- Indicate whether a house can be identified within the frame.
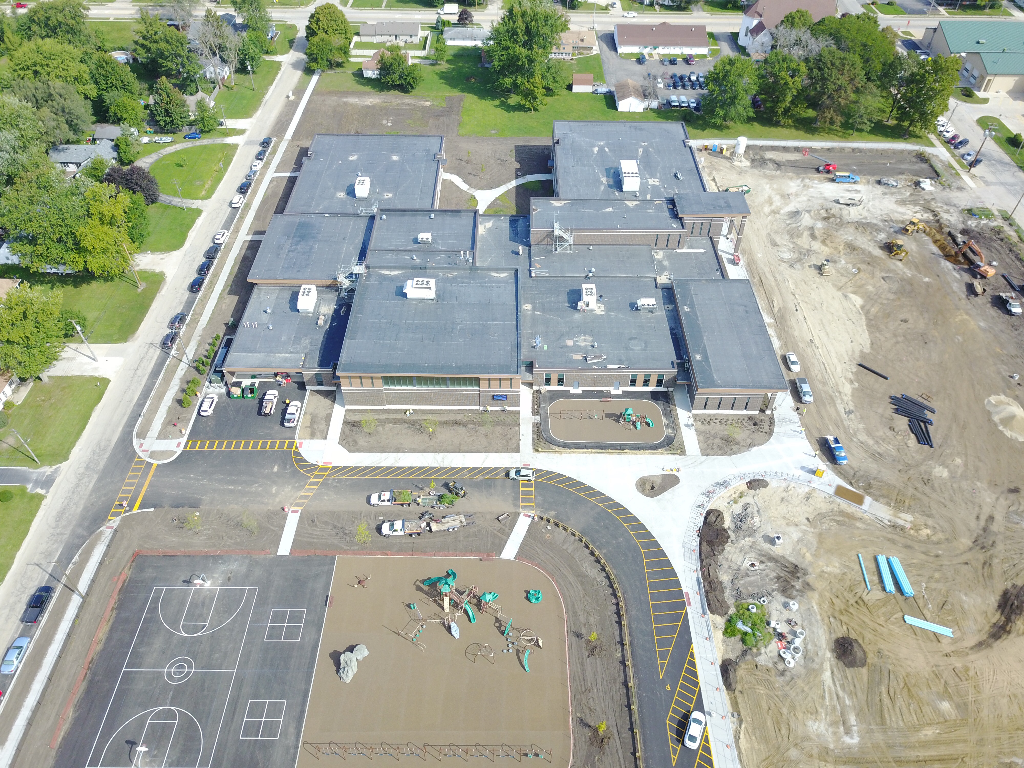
Yes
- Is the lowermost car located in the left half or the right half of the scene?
right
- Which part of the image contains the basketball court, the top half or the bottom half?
bottom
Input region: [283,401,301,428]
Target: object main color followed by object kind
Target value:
white vehicle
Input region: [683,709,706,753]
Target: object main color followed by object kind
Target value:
white car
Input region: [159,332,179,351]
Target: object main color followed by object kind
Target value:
gray car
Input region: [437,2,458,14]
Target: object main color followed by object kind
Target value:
white vehicle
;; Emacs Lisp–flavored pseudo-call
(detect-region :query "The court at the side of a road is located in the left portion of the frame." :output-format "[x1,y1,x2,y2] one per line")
[51,555,336,768]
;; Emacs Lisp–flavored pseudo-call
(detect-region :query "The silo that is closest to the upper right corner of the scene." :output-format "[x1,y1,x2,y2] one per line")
[732,137,751,165]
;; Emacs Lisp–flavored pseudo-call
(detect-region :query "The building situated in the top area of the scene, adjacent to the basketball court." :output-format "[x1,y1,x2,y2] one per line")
[222,120,791,414]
